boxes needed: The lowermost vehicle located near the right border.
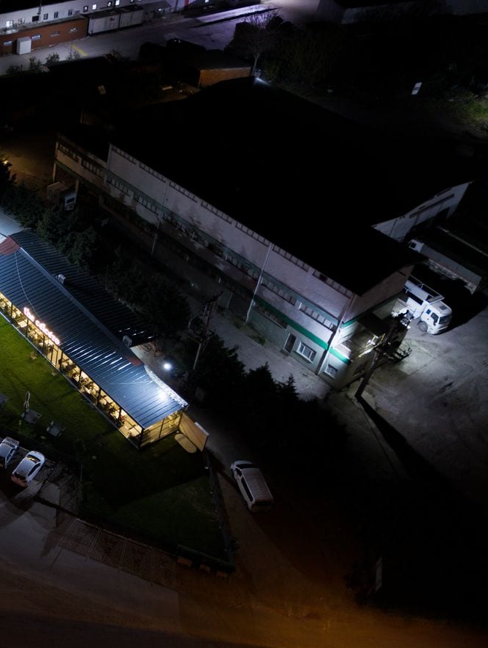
[409,281,465,333]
